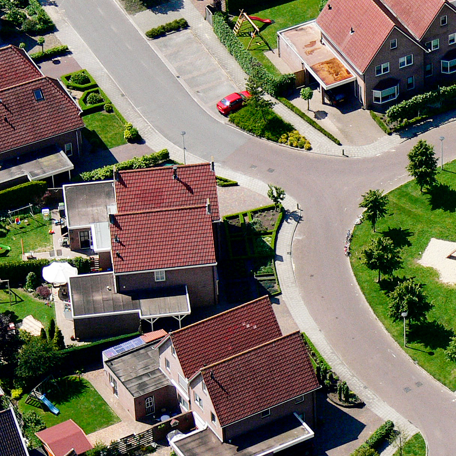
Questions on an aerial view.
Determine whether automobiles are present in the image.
Yes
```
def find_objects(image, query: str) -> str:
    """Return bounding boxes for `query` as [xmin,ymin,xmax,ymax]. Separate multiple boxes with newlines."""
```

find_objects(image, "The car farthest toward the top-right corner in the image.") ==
[323,86,350,105]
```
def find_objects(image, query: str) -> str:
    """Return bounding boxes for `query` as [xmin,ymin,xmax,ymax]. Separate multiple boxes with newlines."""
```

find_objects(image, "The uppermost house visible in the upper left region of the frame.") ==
[0,30,83,187]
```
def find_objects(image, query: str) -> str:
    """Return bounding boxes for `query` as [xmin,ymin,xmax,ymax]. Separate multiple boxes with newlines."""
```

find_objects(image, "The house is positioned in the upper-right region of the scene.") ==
[277,0,456,111]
